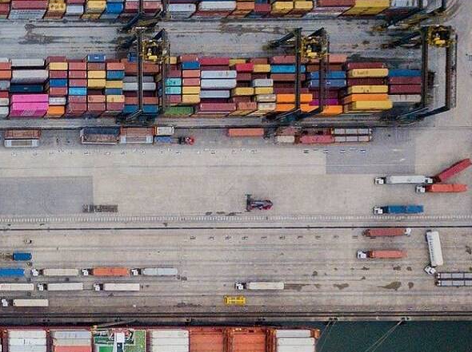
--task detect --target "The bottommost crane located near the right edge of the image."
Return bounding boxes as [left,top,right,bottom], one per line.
[391,27,453,120]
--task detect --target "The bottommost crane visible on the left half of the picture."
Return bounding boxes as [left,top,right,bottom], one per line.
[119,28,169,122]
